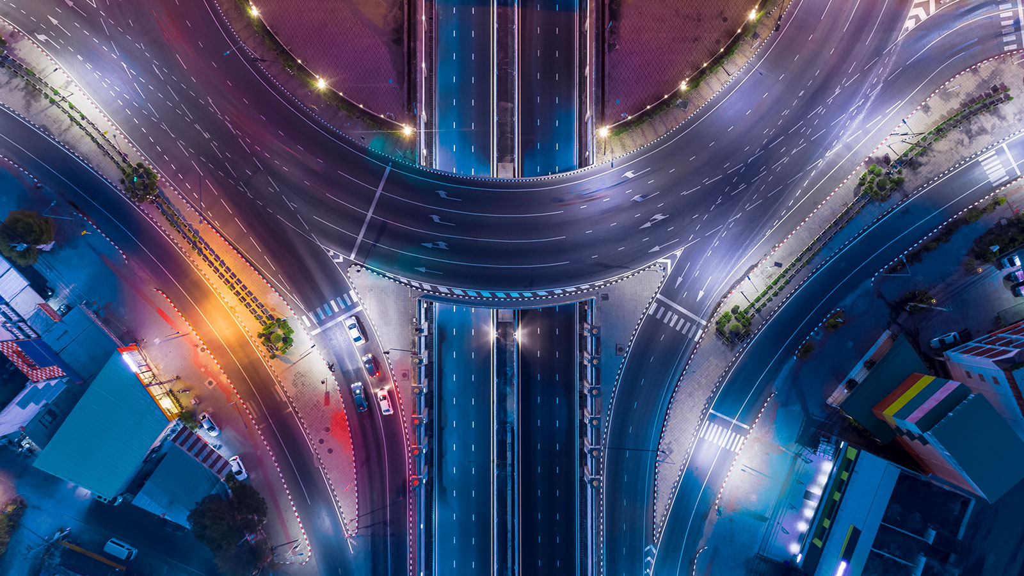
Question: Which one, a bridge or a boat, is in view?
bridge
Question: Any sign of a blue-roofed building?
Yes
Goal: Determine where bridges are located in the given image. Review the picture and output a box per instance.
[421,162,591,322]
